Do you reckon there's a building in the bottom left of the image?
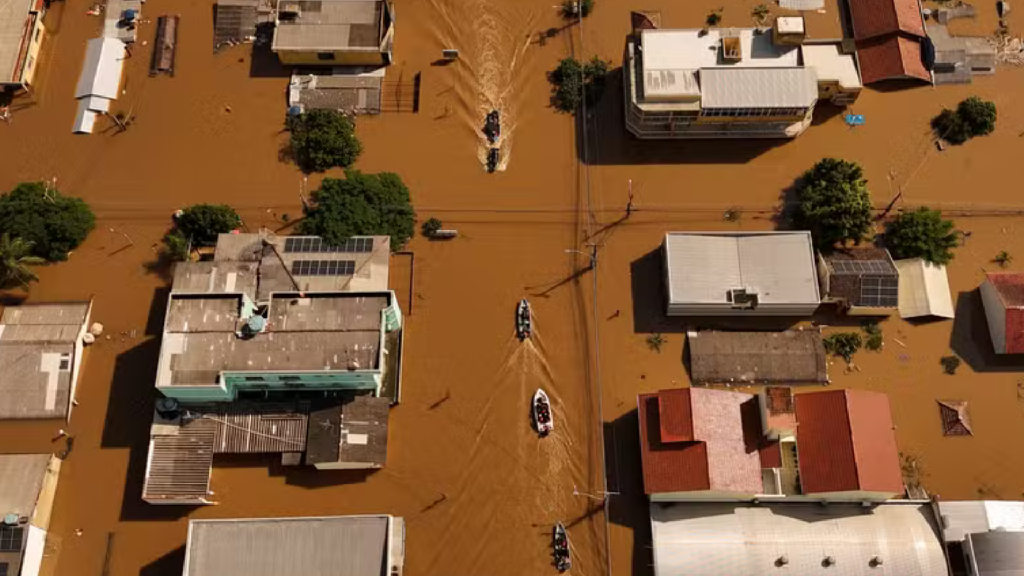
Yes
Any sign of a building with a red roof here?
Yes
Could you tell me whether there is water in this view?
Yes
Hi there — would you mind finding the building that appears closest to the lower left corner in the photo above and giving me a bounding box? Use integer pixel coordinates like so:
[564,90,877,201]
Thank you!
[0,455,62,576]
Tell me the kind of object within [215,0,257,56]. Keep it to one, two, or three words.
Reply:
shed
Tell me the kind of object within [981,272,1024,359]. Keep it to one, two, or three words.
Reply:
house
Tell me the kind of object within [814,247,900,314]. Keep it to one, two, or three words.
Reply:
house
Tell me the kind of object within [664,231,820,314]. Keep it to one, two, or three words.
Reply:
building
